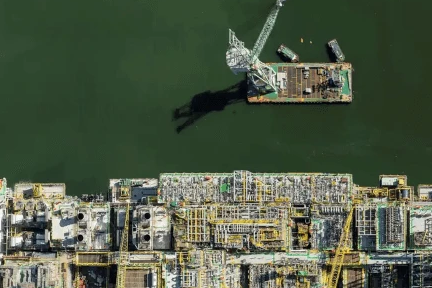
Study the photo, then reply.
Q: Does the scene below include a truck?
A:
No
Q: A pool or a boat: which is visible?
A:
boat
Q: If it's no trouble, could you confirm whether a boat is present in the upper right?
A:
Yes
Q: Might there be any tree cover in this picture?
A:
No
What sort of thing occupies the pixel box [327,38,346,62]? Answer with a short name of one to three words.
boat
